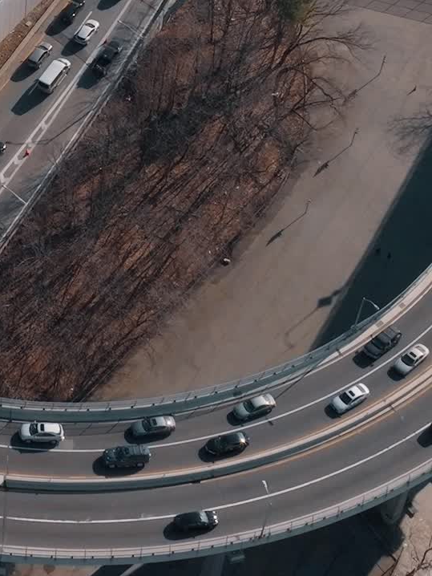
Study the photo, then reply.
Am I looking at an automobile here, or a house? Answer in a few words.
automobile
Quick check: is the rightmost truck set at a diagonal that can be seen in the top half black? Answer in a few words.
Yes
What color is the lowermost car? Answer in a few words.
black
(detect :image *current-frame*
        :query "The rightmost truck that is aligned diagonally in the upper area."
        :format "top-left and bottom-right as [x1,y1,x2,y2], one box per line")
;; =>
[89,41,122,77]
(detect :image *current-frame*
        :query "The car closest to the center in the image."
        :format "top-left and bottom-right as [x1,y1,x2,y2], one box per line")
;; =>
[230,393,278,422]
